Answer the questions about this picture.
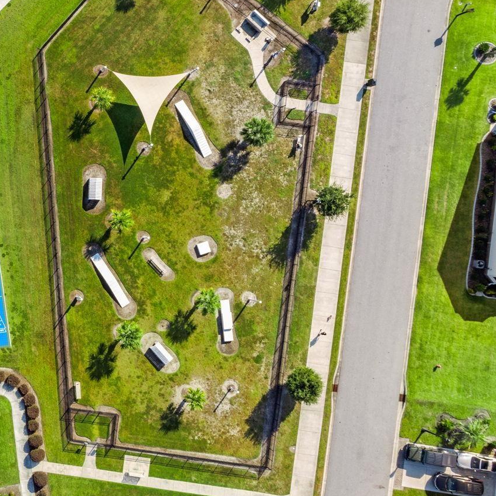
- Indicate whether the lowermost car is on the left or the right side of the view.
right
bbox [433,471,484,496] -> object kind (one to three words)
car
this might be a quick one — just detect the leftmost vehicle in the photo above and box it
[403,440,456,466]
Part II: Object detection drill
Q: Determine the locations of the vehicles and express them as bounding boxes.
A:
[403,440,456,466]
[454,449,496,473]
[433,471,484,496]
